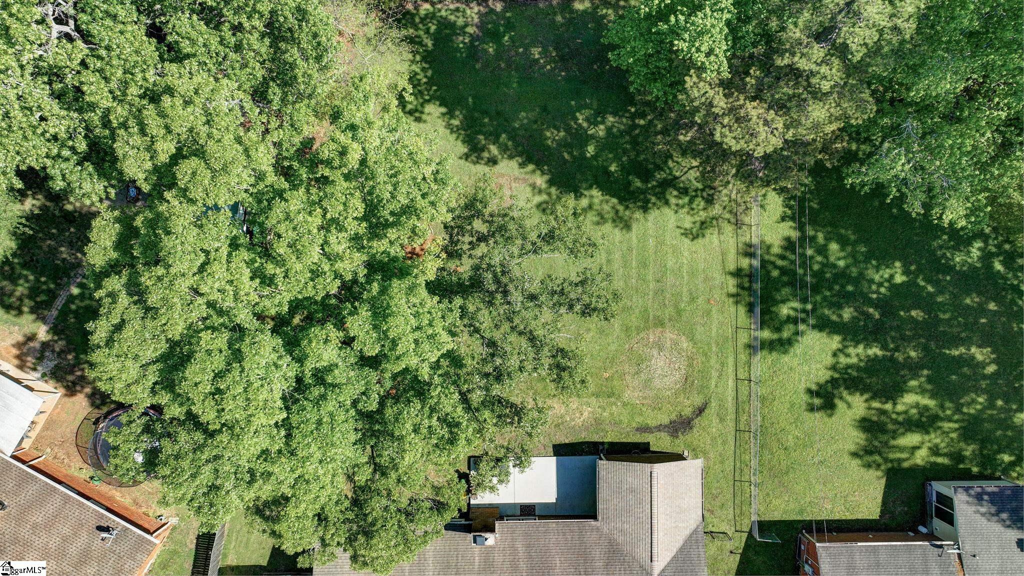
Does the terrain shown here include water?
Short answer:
No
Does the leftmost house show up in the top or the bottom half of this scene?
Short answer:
bottom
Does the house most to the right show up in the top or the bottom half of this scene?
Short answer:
bottom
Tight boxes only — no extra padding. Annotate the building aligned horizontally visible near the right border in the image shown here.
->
[801,475,1024,576]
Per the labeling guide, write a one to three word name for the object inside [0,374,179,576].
house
